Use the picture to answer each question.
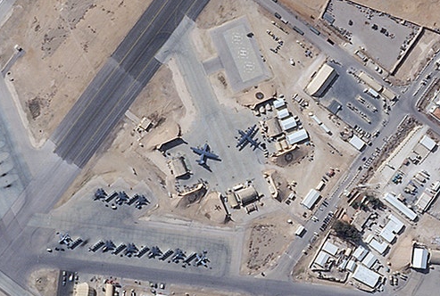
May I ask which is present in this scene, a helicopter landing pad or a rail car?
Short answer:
helicopter landing pad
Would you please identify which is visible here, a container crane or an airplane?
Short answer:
airplane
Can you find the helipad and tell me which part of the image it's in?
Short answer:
top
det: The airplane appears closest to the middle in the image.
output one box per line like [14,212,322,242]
[193,145,218,166]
